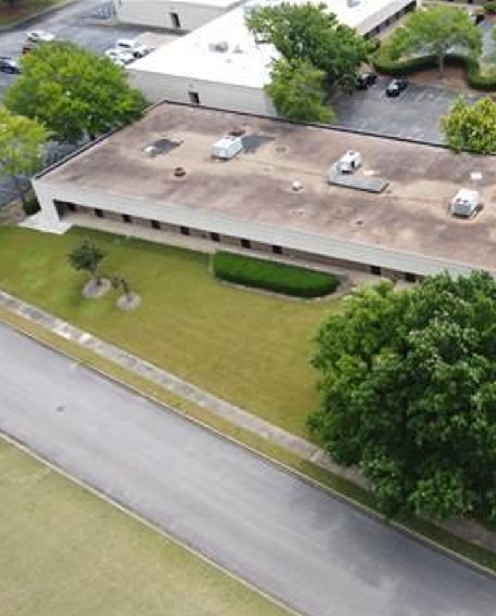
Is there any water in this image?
No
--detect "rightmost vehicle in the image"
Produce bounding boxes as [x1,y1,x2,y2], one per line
[384,82,408,100]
